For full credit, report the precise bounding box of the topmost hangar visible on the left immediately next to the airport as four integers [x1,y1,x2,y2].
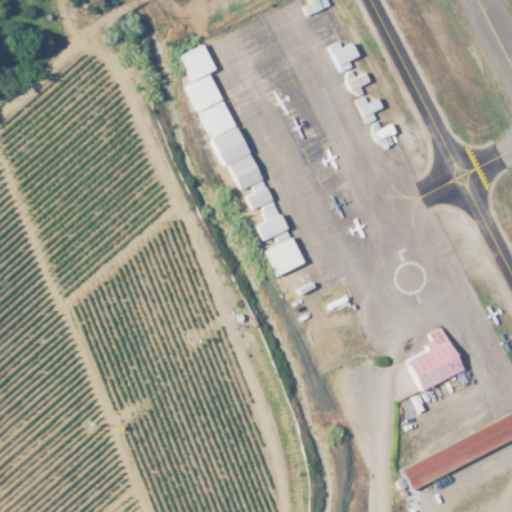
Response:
[179,44,216,82]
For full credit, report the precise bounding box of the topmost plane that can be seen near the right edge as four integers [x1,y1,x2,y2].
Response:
[486,306,504,325]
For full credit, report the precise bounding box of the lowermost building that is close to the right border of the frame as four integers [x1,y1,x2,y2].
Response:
[404,412,512,490]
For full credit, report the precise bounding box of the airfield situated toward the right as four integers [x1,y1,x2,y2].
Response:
[204,0,512,408]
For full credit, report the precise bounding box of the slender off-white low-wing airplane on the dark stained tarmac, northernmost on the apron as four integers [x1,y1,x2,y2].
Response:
[274,91,292,114]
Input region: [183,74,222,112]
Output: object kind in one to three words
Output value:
hangar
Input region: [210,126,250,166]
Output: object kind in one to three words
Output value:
hangar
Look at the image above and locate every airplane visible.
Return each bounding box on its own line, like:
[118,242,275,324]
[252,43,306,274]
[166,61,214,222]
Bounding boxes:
[292,118,309,138]
[274,91,292,114]
[499,334,512,351]
[332,196,348,218]
[486,306,504,325]
[321,148,338,170]
[349,218,365,238]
